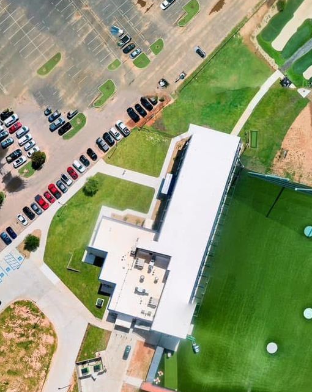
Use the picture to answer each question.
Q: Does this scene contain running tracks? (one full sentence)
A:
No, I can see no running track in this picture.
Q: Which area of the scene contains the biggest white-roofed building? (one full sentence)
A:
The biggest white-roofed building sits in the center section of the image.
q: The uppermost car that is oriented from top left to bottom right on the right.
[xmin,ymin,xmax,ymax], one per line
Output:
[193,44,206,60]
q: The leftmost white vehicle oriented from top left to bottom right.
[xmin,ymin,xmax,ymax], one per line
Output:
[16,212,29,228]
